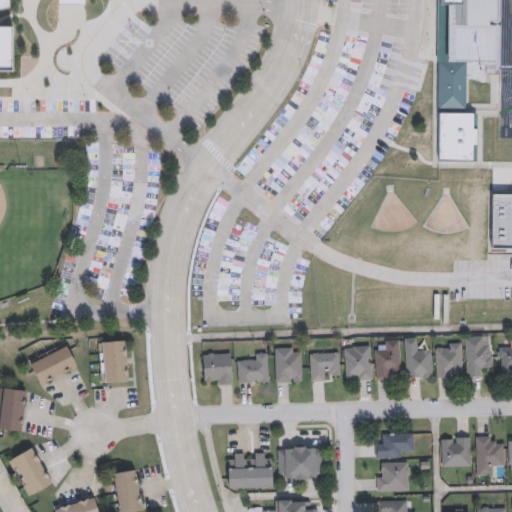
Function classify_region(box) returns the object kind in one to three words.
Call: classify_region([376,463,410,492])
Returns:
house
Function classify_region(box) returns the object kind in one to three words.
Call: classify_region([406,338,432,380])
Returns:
house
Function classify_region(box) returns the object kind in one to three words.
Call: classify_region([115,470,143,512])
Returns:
building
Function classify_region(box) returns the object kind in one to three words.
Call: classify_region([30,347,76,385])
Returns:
building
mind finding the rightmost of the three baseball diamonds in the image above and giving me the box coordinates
[424,187,470,234]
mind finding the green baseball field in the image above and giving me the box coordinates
[0,156,72,300]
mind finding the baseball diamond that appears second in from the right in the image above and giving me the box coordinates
[372,184,417,232]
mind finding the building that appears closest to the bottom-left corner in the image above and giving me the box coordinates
[8,450,52,498]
